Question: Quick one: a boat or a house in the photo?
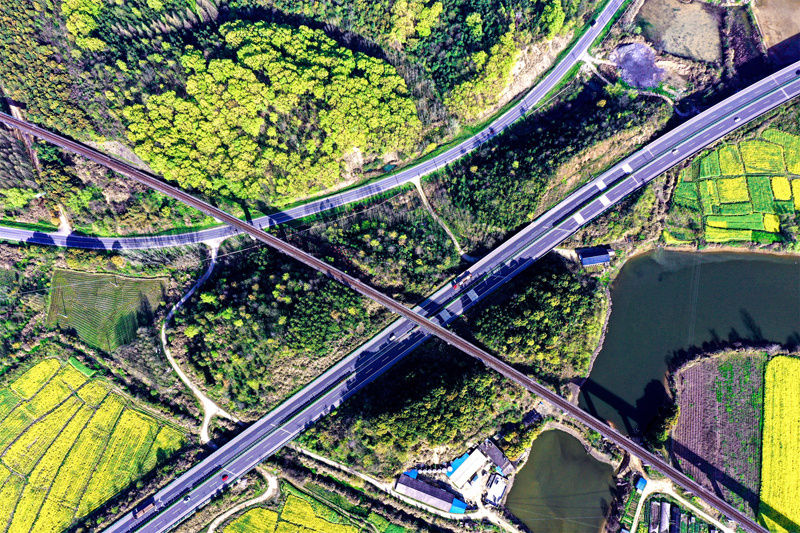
house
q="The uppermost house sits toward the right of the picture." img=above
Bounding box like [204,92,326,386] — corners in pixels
[582,247,610,266]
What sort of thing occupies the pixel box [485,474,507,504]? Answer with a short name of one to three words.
house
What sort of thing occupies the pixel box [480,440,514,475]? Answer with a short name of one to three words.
house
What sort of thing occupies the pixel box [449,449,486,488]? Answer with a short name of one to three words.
shed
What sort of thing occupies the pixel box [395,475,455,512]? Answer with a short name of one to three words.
barn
